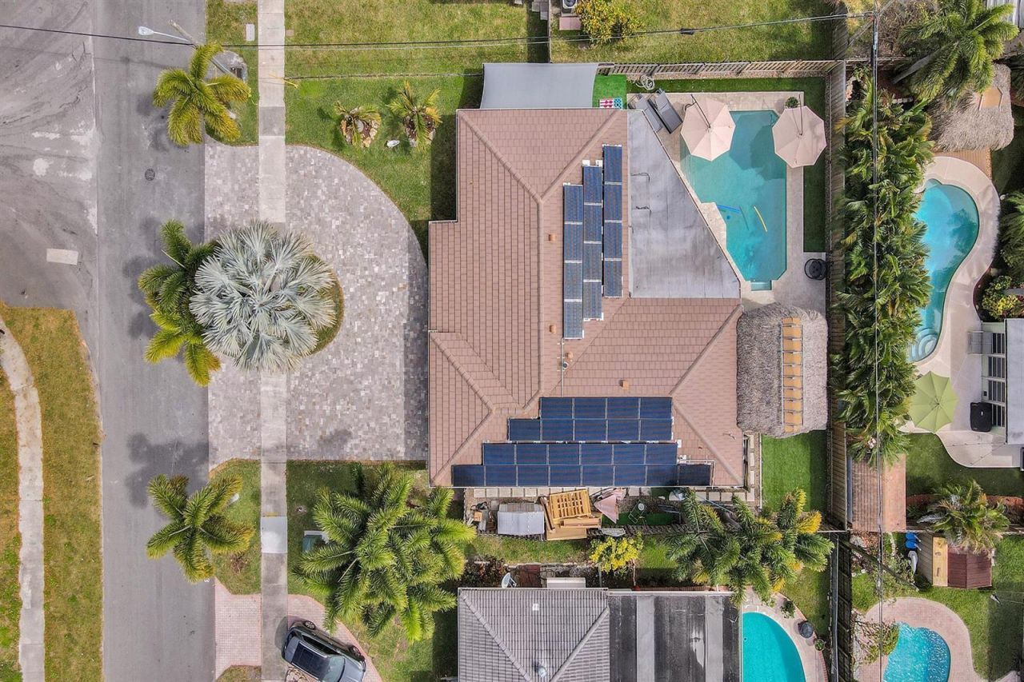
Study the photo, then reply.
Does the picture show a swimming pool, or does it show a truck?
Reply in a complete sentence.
I can see a swimming pool in this picture.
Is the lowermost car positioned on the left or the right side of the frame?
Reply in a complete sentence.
The lowermost car appears in the left half of the scene.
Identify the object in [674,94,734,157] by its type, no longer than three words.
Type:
umbrella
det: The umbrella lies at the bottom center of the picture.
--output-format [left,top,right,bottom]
[590,489,626,523]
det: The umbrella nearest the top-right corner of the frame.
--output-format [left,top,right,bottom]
[767,90,824,166]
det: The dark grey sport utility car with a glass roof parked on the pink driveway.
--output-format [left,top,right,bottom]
[277,618,369,682]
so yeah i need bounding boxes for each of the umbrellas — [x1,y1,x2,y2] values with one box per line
[674,94,734,157]
[590,489,626,523]
[767,90,824,166]
[902,371,962,434]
